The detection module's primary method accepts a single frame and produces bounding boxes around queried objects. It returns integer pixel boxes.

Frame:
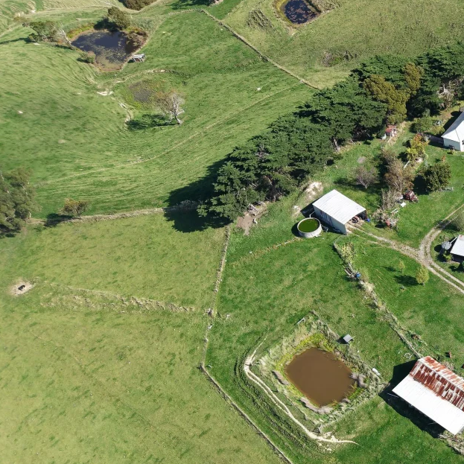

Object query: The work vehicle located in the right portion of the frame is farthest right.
[402,189,418,204]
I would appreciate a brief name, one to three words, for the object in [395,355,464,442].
barn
